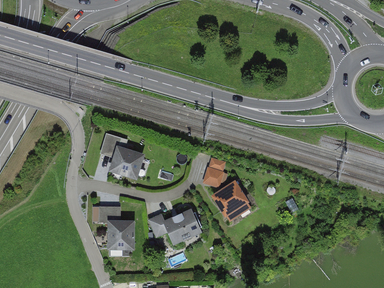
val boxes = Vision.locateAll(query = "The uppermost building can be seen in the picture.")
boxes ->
[101,134,128,156]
